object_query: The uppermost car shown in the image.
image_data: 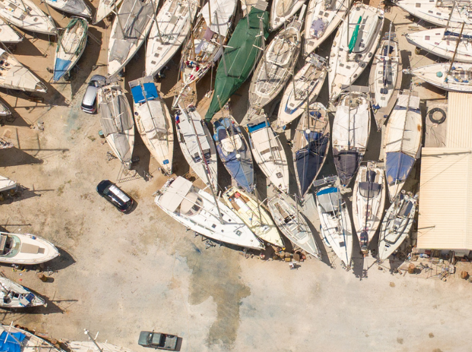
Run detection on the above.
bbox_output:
[78,77,106,115]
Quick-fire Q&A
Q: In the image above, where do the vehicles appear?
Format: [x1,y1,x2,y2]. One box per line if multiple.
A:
[78,77,106,115]
[140,328,183,352]
[94,178,136,218]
